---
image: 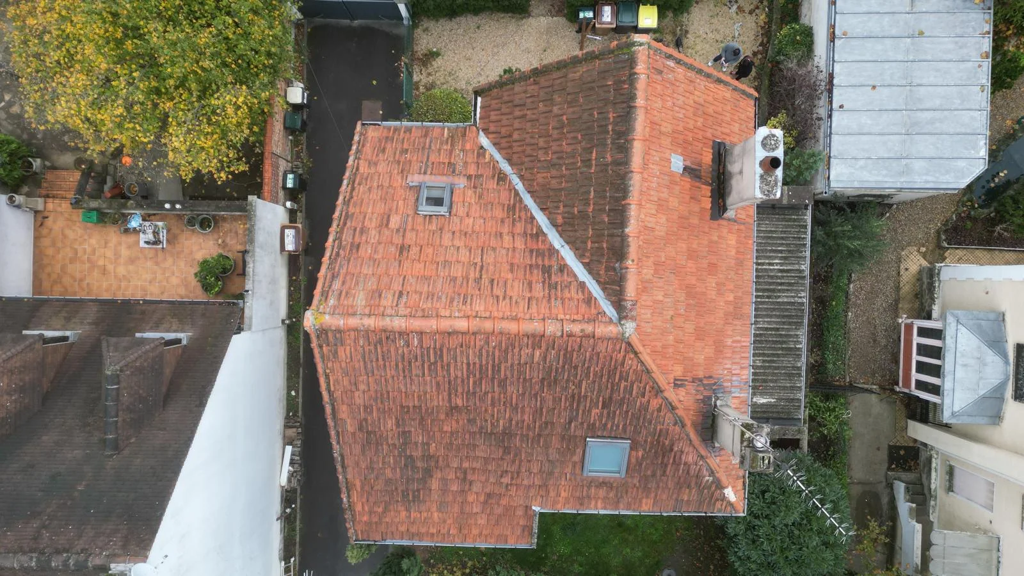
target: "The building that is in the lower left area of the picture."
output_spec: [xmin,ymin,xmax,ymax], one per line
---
[0,292,285,576]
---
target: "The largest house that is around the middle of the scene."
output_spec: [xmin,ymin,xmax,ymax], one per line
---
[304,22,788,554]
